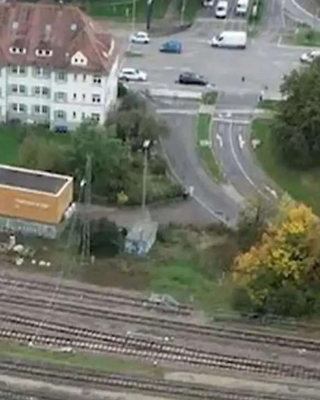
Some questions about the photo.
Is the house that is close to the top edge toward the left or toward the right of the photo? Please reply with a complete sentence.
It is on the left.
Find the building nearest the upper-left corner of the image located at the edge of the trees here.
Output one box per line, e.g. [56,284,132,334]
[0,0,121,129]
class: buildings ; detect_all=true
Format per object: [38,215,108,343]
[126,214,165,257]
[0,0,121,129]
[0,166,68,238]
